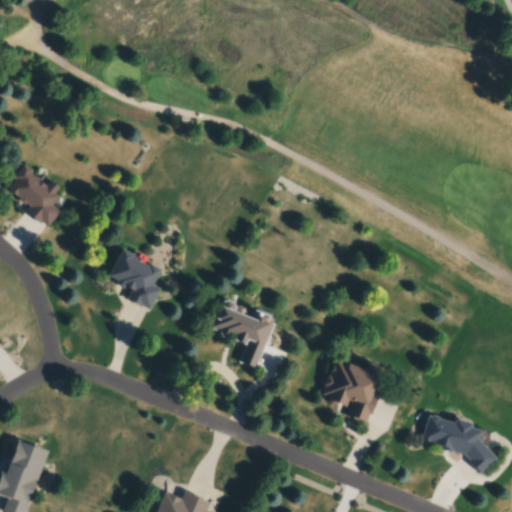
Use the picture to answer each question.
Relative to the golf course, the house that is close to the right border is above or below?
below it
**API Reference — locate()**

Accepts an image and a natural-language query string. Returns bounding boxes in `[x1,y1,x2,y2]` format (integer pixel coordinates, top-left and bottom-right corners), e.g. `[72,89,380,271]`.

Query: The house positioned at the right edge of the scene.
[422,412,503,478]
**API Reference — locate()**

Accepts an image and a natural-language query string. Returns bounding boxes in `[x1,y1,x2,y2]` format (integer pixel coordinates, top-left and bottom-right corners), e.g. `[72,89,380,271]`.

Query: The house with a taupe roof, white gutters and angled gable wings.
[214,295,278,368]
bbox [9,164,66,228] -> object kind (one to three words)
house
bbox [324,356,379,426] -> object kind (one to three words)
house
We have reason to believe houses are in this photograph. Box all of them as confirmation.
[110,250,164,310]
[156,488,213,512]
[0,440,51,512]
[422,412,503,478]
[324,356,379,426]
[214,295,278,368]
[9,164,66,228]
